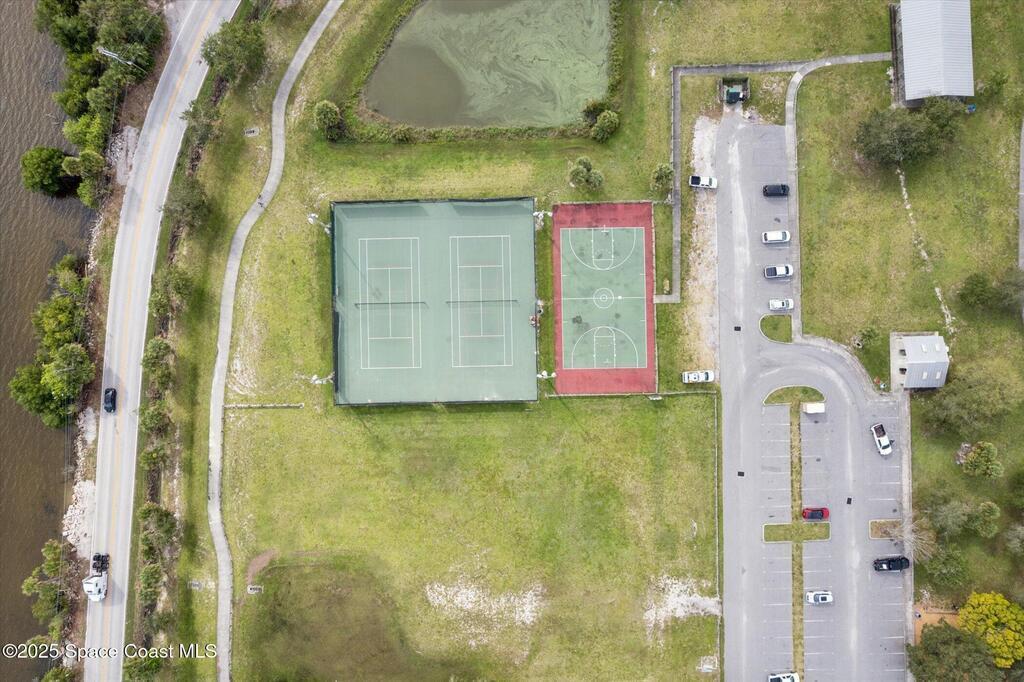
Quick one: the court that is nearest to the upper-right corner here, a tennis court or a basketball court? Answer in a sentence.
From above, the court that is nearest to the upper-right corner can be identified as a basketball court.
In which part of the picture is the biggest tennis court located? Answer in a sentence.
You can find the biggest tennis court in the center area of the picture.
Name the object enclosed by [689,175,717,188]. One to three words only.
vehicle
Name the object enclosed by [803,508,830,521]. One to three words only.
vehicle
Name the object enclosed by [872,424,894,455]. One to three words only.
truck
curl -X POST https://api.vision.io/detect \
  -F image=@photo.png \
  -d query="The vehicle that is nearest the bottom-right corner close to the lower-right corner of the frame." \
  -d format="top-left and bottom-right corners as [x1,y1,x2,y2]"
[876,558,908,572]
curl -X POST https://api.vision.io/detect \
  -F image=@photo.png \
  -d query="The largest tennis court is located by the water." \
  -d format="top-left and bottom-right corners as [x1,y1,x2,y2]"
[336,200,537,403]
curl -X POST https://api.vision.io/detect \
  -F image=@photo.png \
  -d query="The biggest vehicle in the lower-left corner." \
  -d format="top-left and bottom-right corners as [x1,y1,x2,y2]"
[81,553,109,599]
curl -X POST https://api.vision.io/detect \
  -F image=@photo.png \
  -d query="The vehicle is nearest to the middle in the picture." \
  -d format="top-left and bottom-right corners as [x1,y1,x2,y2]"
[683,371,713,384]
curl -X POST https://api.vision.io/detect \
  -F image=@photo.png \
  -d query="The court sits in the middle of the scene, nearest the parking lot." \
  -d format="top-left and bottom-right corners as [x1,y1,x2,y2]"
[553,202,657,394]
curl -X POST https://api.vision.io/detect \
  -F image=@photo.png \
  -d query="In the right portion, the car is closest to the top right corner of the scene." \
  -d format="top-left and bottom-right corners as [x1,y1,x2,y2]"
[763,183,790,196]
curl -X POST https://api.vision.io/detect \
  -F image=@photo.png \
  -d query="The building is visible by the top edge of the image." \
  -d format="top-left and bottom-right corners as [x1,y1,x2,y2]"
[887,0,974,103]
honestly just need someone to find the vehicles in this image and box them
[689,175,717,188]
[806,592,834,605]
[872,424,894,455]
[876,558,908,572]
[81,553,109,599]
[769,298,794,310]
[683,371,713,384]
[100,387,116,412]
[763,183,790,196]
[803,508,830,521]
[769,673,799,682]
[764,265,794,277]
[762,230,790,243]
